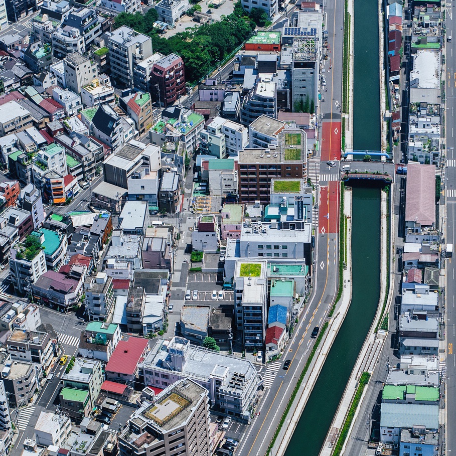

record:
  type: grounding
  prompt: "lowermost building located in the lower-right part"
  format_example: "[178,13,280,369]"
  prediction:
[400,429,440,456]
